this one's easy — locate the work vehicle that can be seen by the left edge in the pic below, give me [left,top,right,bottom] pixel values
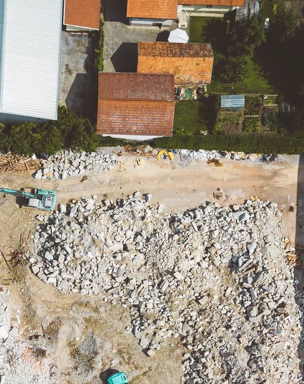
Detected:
[0,185,62,211]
